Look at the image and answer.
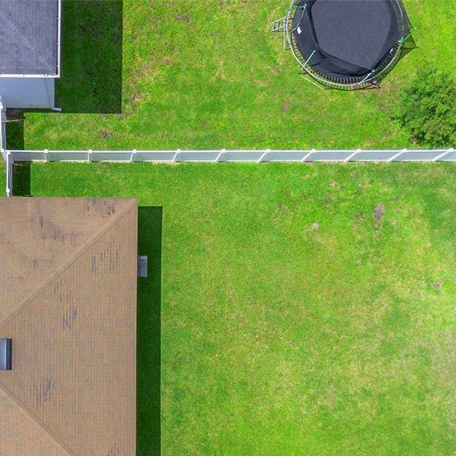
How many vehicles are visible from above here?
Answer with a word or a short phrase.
none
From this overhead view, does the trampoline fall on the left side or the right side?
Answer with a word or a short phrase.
right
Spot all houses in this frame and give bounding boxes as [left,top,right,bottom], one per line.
[0,197,146,456]
[0,0,63,114]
